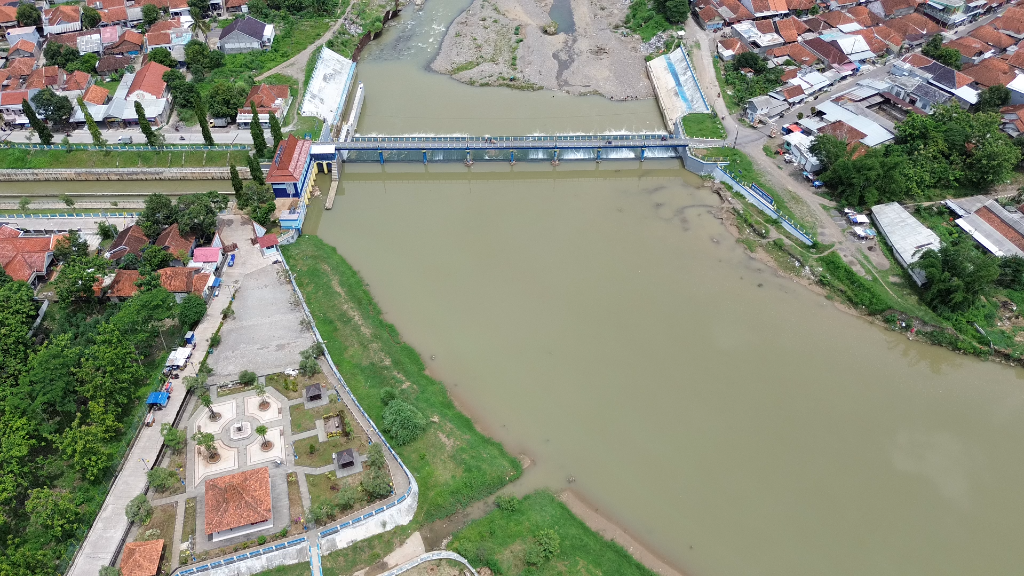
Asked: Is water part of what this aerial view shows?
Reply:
Yes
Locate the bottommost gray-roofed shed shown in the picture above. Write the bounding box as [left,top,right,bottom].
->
[334,446,357,474]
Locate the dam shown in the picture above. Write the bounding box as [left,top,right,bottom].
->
[339,133,680,161]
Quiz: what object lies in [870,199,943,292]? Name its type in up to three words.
building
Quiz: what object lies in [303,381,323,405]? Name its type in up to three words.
shed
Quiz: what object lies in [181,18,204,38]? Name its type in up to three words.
house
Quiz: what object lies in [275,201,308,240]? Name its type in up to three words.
building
